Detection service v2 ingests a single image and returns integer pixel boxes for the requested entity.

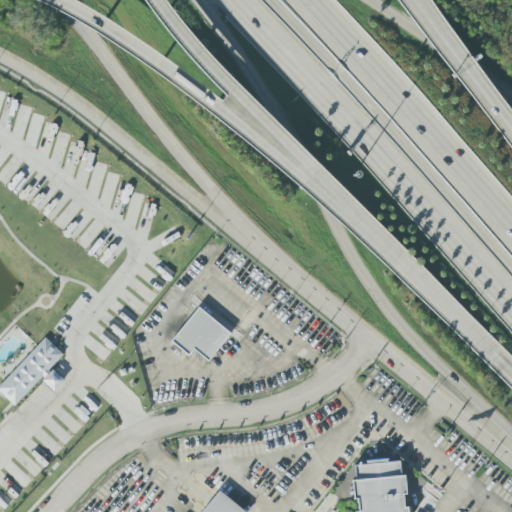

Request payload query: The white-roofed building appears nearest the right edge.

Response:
[344,458,410,512]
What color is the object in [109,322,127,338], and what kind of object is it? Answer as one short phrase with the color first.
white camper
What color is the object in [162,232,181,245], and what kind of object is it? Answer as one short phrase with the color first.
white vehicle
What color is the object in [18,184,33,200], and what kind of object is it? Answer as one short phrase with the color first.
white camper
